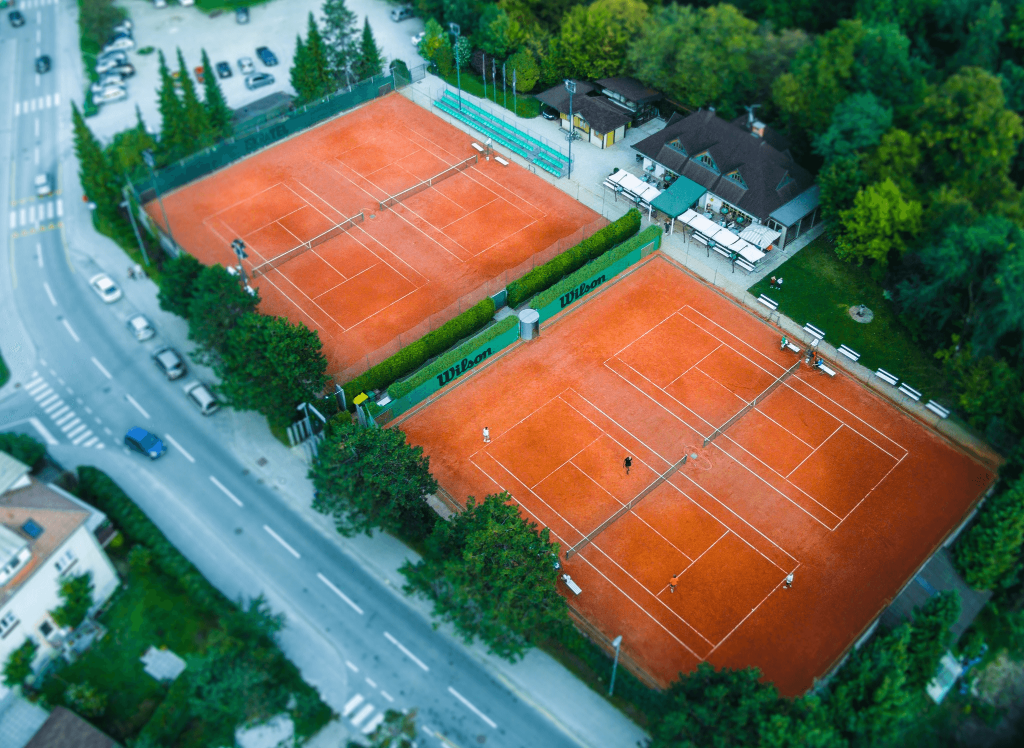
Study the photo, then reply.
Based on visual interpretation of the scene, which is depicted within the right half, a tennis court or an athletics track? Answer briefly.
tennis court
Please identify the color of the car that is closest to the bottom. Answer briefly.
blue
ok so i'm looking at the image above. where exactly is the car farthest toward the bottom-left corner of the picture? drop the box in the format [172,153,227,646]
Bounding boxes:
[121,424,169,461]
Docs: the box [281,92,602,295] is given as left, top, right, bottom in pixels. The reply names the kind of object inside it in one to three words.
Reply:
tennis court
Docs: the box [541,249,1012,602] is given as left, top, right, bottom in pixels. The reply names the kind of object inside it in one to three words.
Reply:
tennis court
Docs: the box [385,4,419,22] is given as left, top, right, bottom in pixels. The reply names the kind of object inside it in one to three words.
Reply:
car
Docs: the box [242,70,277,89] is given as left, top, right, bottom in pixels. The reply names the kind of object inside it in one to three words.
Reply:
car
